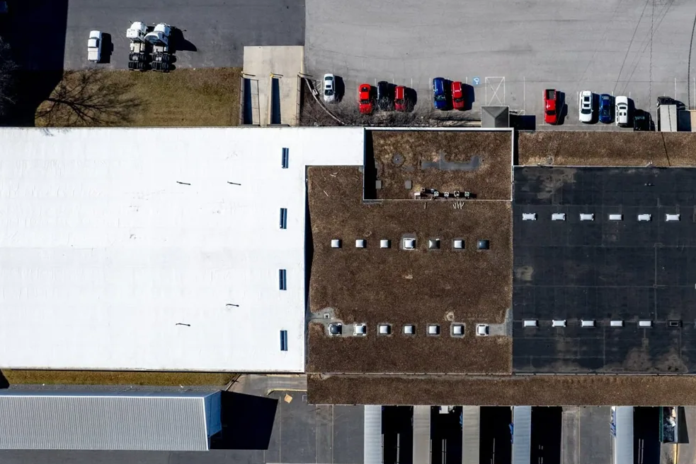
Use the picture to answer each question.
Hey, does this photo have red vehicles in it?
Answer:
Yes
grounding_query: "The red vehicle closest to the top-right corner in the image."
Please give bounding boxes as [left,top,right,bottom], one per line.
[543,88,560,124]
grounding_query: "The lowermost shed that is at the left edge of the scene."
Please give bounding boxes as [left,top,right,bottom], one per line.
[0,389,221,450]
